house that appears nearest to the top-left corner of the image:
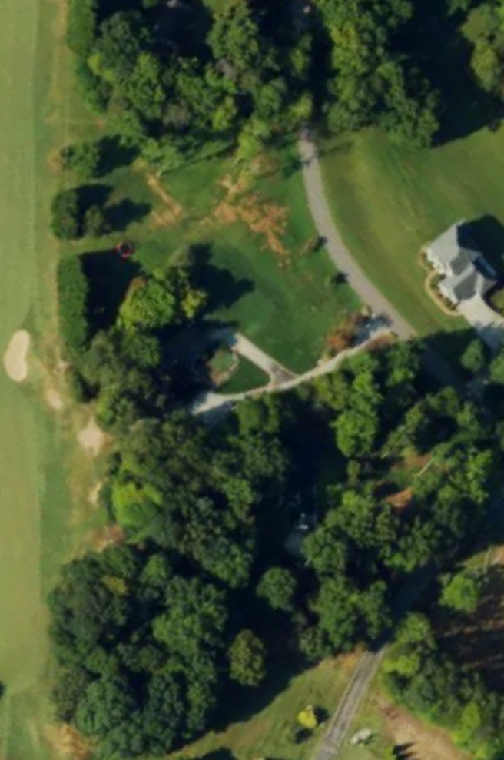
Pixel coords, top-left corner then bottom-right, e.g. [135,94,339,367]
[150,2,206,49]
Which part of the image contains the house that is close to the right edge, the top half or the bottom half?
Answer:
top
